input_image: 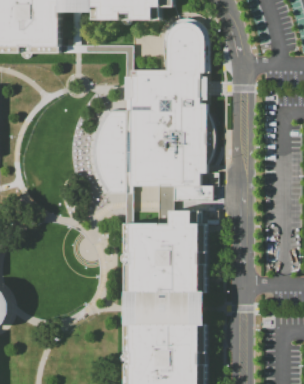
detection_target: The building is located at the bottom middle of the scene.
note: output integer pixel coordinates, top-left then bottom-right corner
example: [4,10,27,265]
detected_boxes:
[119,211,208,384]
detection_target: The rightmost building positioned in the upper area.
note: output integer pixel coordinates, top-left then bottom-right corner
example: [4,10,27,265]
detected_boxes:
[94,17,226,220]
